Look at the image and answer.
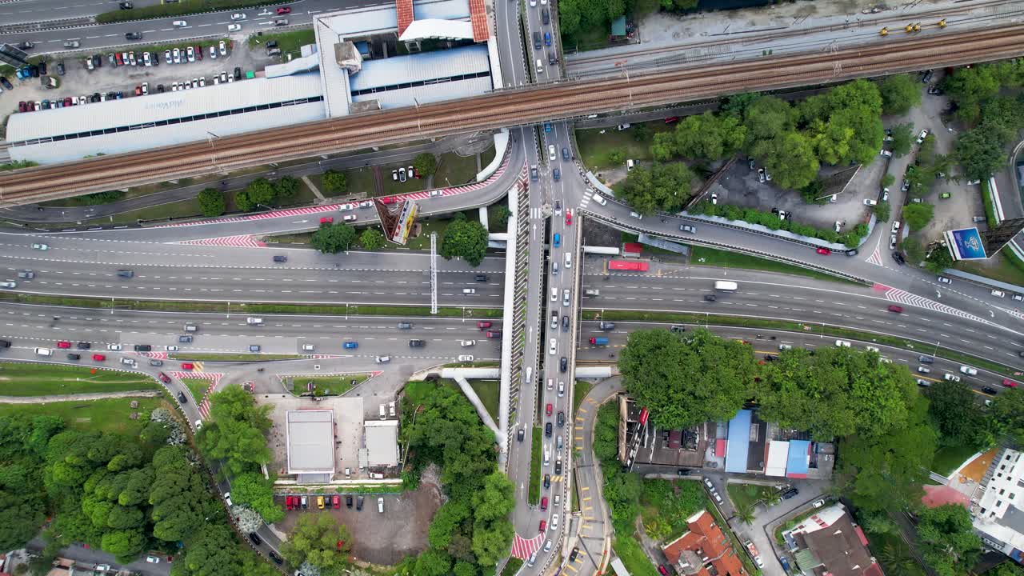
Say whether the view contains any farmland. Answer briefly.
No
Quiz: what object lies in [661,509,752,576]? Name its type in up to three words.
house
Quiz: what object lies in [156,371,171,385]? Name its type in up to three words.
car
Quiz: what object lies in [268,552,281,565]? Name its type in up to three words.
vehicle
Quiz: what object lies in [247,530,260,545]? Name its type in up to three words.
vehicle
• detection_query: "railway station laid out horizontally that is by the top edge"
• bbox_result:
[0,0,504,168]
